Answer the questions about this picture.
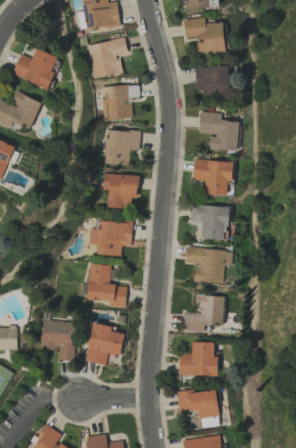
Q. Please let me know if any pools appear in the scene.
Yes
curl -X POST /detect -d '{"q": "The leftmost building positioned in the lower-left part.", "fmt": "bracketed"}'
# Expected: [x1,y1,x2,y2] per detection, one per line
[0,326,18,350]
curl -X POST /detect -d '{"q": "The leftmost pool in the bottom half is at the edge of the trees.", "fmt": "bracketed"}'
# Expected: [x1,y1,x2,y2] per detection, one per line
[0,290,30,327]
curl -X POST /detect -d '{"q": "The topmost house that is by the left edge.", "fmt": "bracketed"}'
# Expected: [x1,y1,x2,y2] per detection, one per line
[14,49,57,88]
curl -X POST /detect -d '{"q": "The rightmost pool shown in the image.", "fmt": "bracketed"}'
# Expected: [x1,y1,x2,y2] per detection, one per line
[90,311,118,324]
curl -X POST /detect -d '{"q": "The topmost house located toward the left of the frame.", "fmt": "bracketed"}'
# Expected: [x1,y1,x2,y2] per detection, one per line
[76,0,122,28]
